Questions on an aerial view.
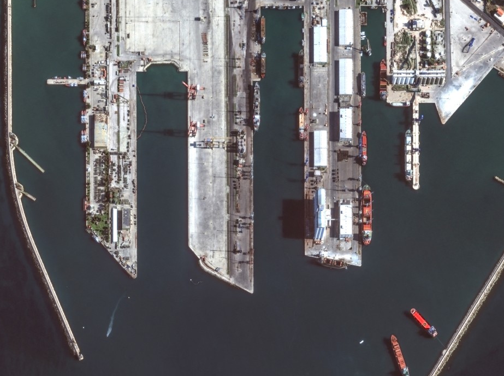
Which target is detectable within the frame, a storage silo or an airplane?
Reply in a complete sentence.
The image shows a storage silo.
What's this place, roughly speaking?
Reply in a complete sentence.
What you see here is a port.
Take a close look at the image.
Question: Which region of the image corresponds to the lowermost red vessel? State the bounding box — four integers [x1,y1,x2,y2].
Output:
[390,334,409,376]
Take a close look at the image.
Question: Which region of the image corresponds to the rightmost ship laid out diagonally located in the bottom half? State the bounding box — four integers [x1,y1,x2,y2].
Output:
[411,308,444,345]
